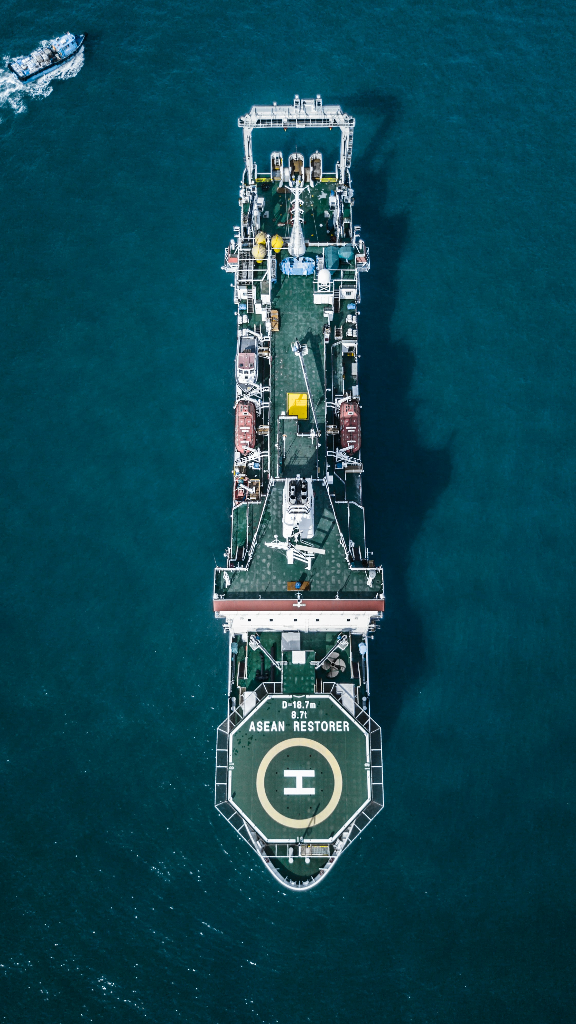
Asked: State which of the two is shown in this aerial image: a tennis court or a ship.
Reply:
ship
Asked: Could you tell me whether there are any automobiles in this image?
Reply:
No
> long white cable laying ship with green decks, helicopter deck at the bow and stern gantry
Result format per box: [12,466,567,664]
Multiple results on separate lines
[212,94,386,891]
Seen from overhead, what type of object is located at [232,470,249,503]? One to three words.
boat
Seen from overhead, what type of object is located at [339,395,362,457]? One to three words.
boat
